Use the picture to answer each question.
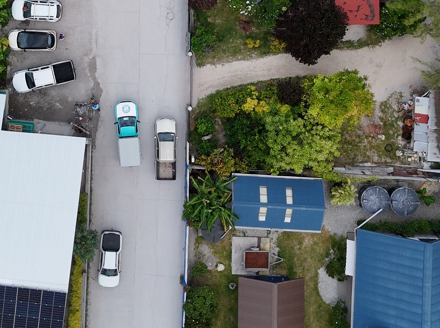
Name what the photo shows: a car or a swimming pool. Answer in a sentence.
Of the two, only a car appears.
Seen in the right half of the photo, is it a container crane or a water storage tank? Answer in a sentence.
It is a water storage tank that can be seen in the right half of the photo.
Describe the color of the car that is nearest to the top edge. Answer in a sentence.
The color of the car that is nearest to the top edge is white.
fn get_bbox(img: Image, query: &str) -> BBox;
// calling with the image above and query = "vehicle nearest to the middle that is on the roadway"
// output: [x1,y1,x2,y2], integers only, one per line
[152,115,179,180]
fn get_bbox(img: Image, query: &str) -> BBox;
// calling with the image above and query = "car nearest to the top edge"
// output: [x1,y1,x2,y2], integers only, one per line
[11,0,63,24]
